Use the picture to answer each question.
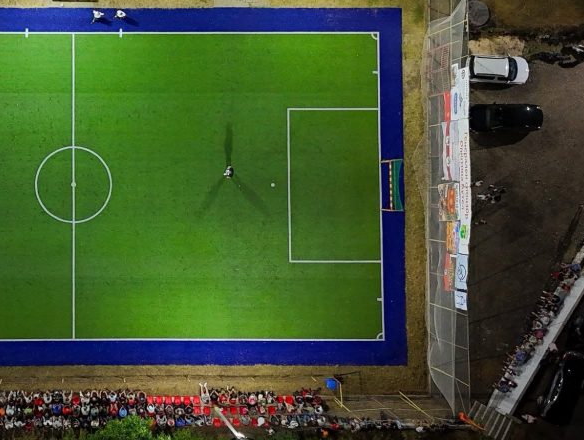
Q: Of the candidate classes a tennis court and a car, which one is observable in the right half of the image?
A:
car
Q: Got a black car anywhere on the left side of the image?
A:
No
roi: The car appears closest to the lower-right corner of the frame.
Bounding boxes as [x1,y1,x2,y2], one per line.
[533,351,584,427]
